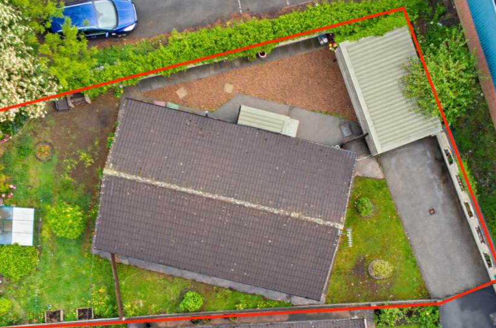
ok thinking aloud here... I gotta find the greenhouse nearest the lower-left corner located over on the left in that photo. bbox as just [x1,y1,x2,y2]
[0,206,38,246]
